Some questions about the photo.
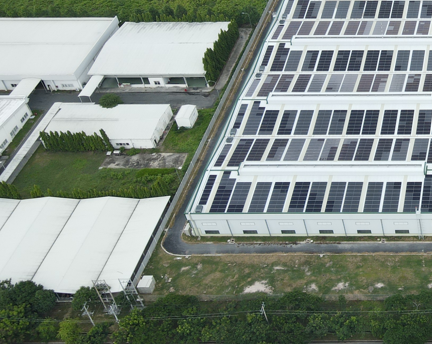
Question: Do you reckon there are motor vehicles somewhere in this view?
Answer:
No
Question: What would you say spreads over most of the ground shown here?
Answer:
buildings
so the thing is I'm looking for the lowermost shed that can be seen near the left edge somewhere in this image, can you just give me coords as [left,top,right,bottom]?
[0,196,172,299]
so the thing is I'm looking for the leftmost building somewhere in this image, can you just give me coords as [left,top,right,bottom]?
[0,96,32,155]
